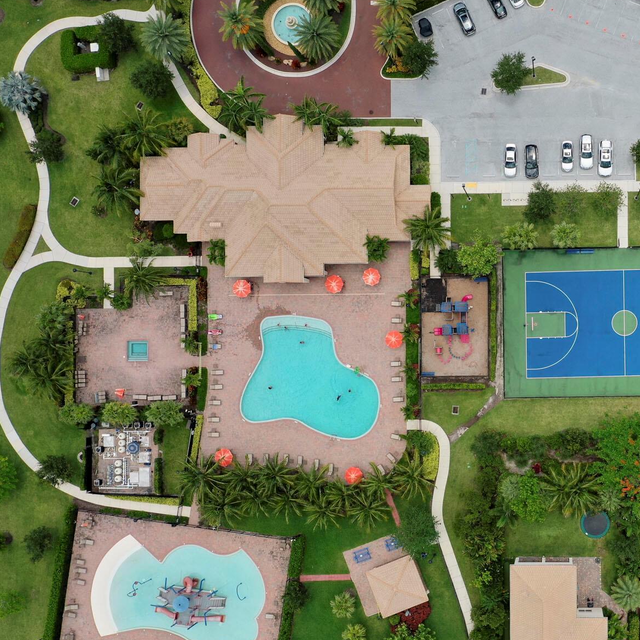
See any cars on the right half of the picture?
Yes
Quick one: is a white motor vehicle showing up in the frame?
Yes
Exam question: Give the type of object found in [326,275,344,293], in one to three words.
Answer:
umbrella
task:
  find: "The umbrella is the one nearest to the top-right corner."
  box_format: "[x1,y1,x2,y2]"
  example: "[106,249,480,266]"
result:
[363,268,381,286]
